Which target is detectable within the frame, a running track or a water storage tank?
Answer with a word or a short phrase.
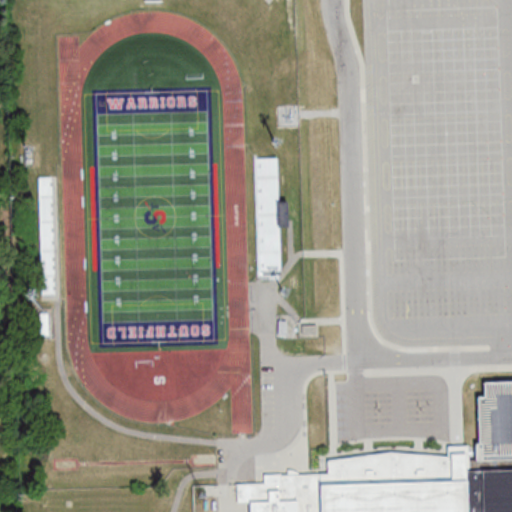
running track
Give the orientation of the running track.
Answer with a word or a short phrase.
vertically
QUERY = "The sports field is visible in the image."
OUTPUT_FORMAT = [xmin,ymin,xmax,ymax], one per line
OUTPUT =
[82,33,229,353]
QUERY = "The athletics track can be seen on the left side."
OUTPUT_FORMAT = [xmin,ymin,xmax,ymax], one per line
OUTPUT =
[57,12,253,434]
